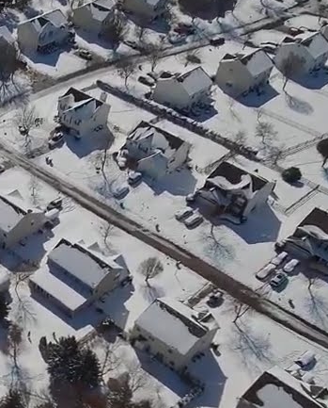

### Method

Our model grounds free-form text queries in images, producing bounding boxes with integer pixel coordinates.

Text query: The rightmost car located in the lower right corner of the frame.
[294,350,314,368]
